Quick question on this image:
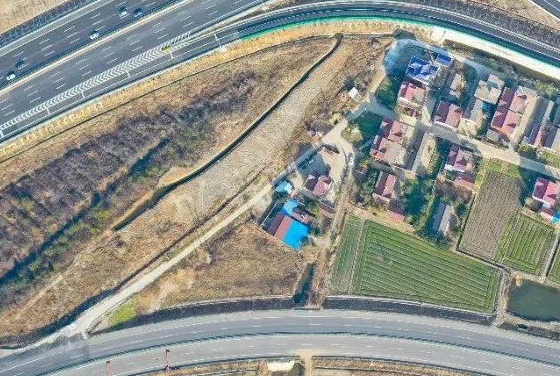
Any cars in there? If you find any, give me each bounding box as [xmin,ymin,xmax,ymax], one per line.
[15,63,25,70]
[5,75,15,81]
[90,32,98,38]
[118,9,127,15]
[133,11,141,17]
